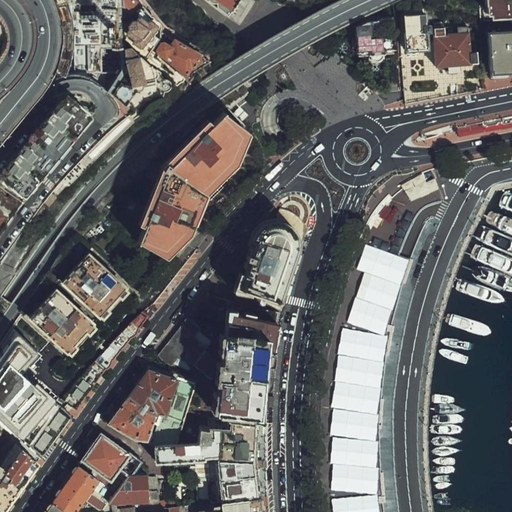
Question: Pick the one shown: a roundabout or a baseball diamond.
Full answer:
This aerial view contains a roundabout.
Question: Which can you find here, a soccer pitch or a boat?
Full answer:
This aerial view contains a boat.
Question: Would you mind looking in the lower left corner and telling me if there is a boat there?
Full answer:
No, looking in the lower left corner, there is no boat.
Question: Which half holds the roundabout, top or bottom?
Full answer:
It is in the top half that the roundabout appears.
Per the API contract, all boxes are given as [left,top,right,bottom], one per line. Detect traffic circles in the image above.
[324,118,390,185]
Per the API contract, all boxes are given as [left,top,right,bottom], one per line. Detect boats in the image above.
[436,498,451,506]
[432,465,456,475]
[430,435,462,446]
[468,270,512,295]
[440,339,474,350]
[428,424,463,435]
[444,312,494,336]
[475,226,512,254]
[432,474,451,482]
[432,456,457,466]
[432,482,452,490]
[438,350,470,365]
[455,276,507,304]
[494,192,512,210]
[432,492,447,500]
[430,414,464,424]
[481,209,512,234]
[431,446,462,456]
[431,394,456,404]
[466,242,512,274]
[434,404,465,414]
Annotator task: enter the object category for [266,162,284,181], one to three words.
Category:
vehicle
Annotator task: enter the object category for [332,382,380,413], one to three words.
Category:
tent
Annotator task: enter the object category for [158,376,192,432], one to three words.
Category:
house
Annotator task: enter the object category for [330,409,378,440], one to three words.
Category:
tent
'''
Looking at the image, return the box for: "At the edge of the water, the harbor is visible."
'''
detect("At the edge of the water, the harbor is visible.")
[418,179,512,512]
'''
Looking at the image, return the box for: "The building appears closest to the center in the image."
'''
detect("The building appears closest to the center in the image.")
[236,218,304,309]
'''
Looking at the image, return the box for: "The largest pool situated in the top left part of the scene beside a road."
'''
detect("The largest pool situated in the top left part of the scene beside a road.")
[117,86,132,102]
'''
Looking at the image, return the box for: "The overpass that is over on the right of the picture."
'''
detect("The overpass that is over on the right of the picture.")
[214,0,400,92]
